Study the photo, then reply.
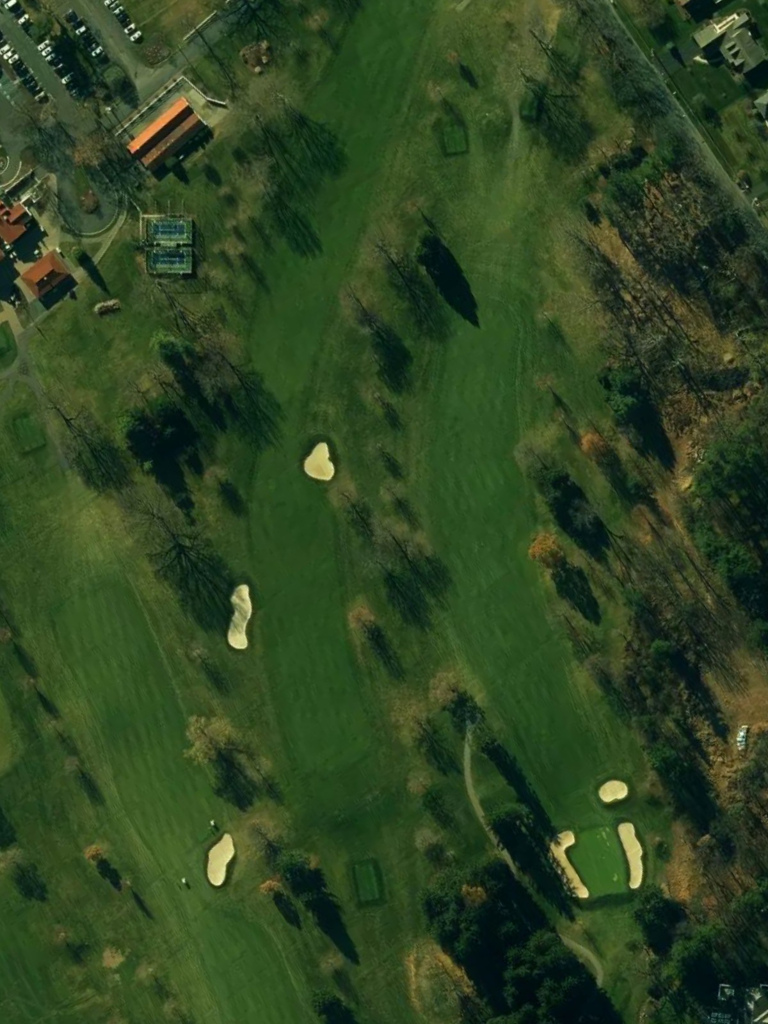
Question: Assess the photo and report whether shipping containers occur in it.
No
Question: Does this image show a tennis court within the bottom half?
No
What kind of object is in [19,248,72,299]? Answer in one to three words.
building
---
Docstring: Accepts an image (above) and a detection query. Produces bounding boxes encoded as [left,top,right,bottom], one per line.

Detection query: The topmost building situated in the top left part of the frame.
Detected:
[128,97,206,171]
